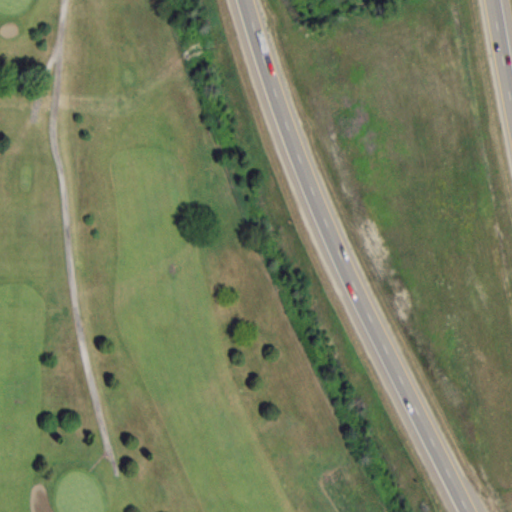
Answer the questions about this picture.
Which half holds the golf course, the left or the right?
left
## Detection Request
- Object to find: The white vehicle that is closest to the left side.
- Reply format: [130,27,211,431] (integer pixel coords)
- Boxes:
[258,30,276,76]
